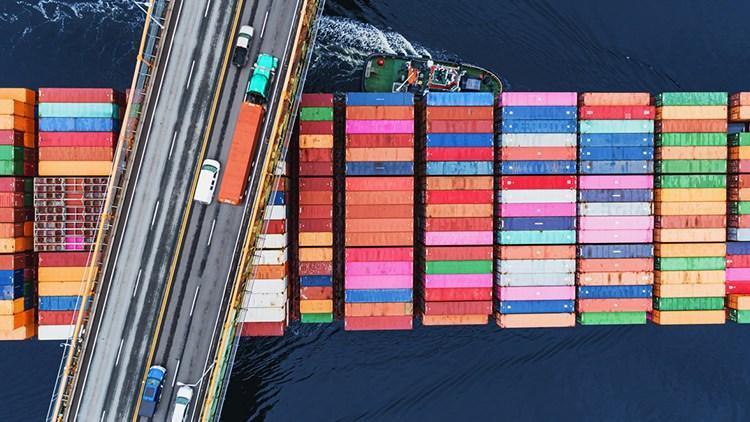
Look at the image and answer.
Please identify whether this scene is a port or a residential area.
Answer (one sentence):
This looks like a port.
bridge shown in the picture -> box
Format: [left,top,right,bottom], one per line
[45,0,324,422]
